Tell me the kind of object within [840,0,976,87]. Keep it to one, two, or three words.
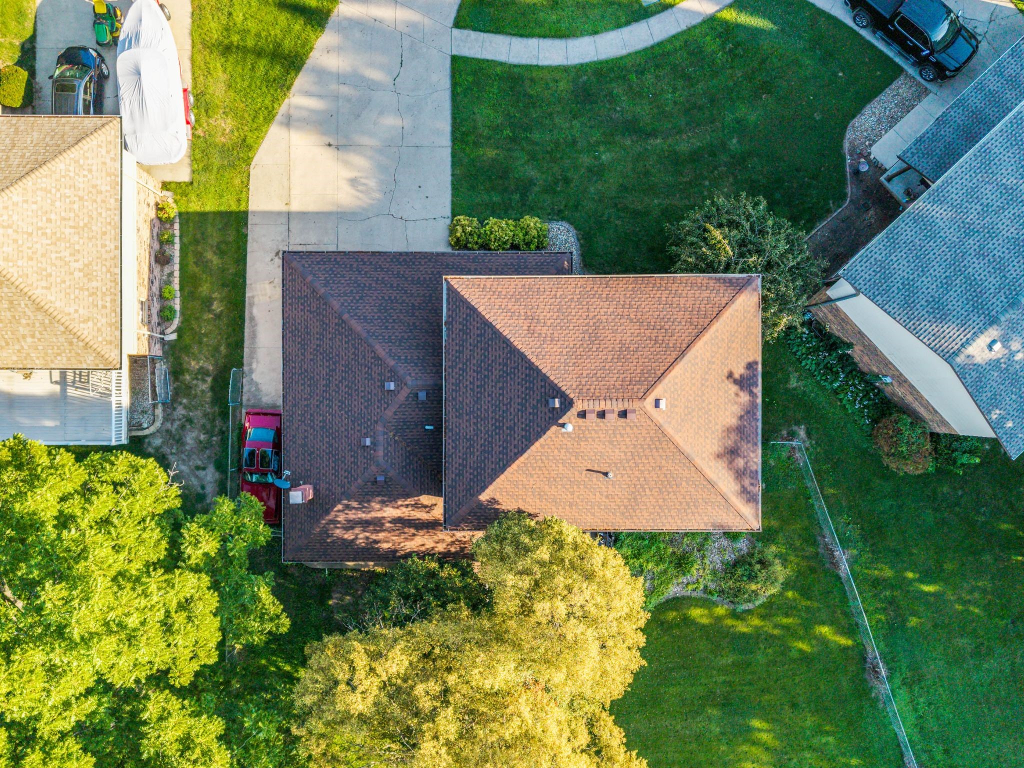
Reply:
truck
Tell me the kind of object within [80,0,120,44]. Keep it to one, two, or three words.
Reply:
work vehicle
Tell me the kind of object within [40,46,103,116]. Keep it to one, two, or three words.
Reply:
car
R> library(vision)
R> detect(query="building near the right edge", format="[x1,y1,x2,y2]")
[806,38,1024,460]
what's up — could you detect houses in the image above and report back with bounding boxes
[282,250,761,562]
[0,116,167,368]
[806,38,1024,460]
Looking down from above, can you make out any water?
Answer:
No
